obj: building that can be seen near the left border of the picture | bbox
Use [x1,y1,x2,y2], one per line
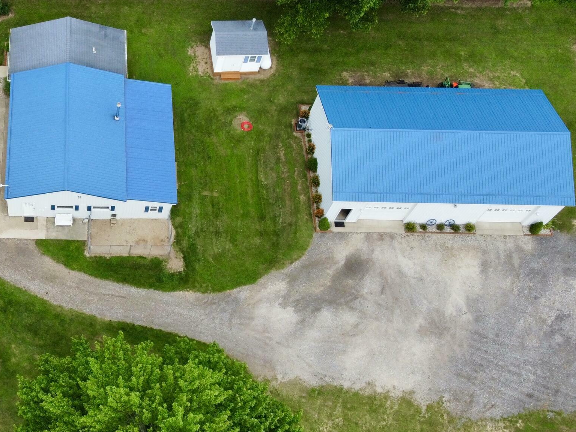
[2,16,177,219]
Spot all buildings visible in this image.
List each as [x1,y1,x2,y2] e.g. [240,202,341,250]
[210,18,269,79]
[309,85,575,228]
[2,16,177,219]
